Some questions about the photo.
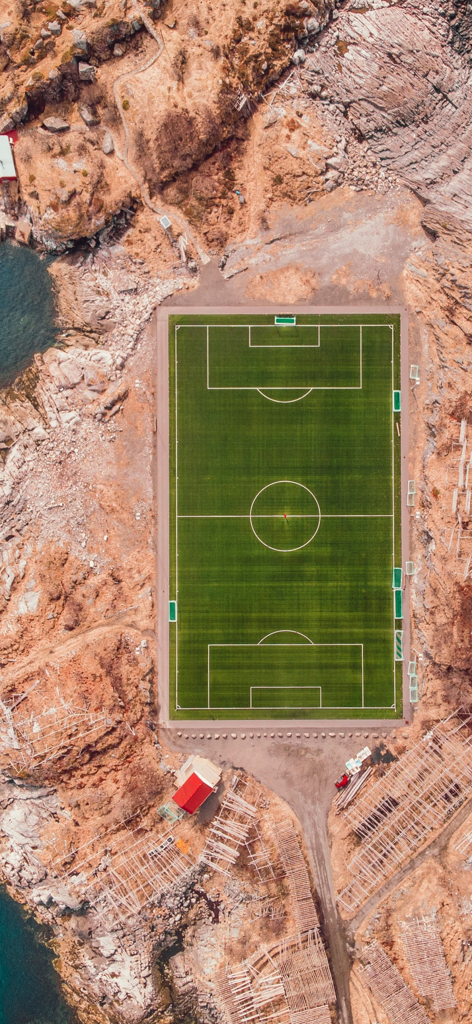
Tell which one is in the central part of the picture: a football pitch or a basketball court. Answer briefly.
football pitch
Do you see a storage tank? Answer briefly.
No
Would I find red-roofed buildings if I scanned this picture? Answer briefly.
Yes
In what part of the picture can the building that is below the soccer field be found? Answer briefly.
bottom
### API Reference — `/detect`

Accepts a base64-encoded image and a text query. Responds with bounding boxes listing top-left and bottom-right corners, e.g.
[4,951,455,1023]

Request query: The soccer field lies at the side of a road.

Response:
[157,306,409,727]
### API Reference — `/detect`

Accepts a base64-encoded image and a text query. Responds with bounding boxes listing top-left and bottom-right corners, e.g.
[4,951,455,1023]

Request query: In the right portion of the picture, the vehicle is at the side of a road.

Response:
[335,773,350,789]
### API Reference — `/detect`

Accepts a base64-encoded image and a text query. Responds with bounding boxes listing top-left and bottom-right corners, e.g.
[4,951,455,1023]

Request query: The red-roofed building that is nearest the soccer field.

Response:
[172,770,213,814]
